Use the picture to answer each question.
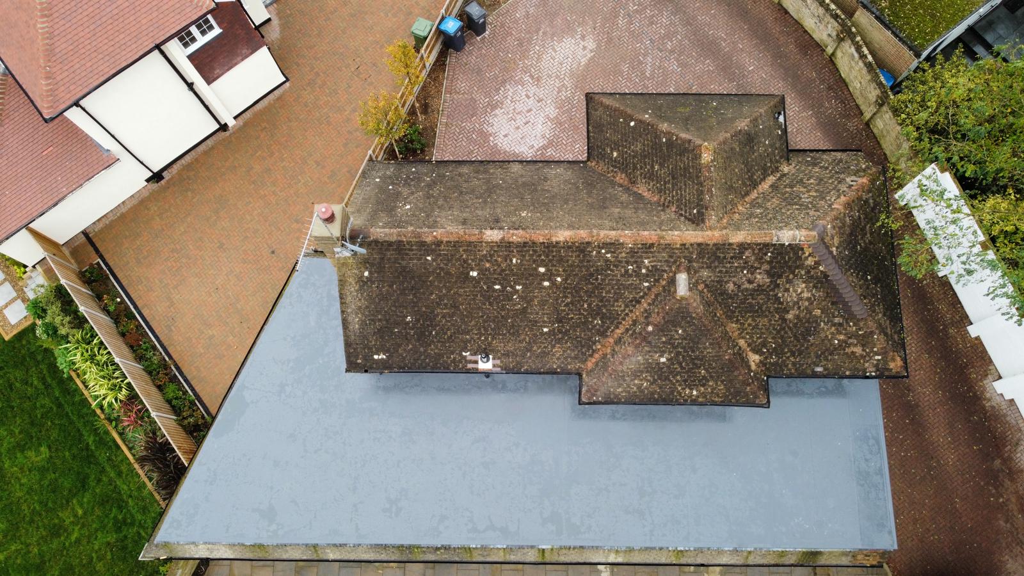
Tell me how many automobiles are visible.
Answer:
0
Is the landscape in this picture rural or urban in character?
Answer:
urban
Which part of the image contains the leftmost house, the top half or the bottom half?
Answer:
top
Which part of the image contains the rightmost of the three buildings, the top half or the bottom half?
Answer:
top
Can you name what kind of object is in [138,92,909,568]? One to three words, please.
house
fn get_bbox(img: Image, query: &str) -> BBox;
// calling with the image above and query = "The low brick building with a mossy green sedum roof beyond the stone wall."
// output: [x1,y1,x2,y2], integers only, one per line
[830,0,1014,85]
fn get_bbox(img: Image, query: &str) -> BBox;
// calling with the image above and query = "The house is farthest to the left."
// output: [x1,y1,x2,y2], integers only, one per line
[0,0,289,266]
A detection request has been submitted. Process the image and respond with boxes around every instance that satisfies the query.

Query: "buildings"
[0,0,289,266]
[138,92,909,568]
[830,0,1014,85]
